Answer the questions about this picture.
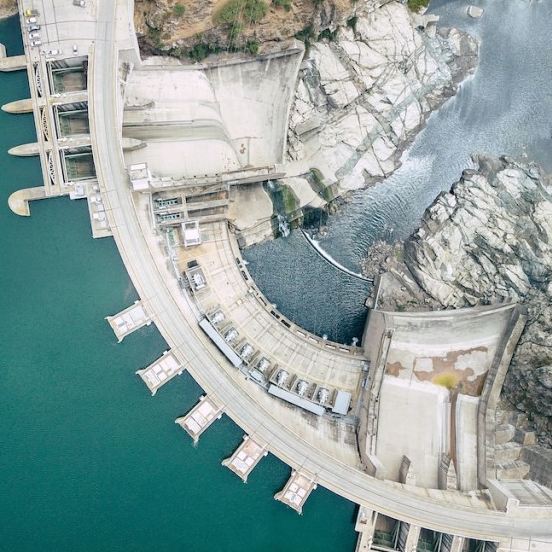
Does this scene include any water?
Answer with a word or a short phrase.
Yes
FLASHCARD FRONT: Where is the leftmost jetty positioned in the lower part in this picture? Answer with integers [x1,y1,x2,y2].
[350,506,377,552]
